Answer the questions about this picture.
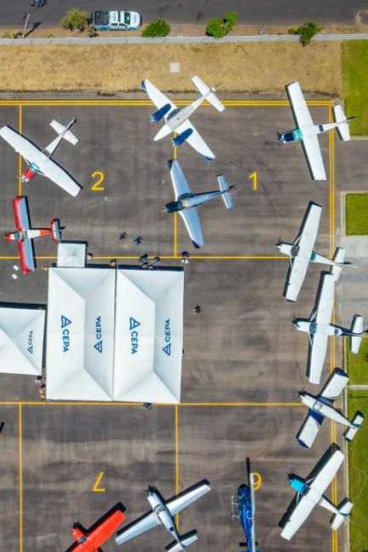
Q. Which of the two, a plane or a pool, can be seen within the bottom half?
plane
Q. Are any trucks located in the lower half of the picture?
No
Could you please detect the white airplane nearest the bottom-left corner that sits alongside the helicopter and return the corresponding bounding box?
[116,485,211,552]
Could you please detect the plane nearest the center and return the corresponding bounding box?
[162,162,234,246]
